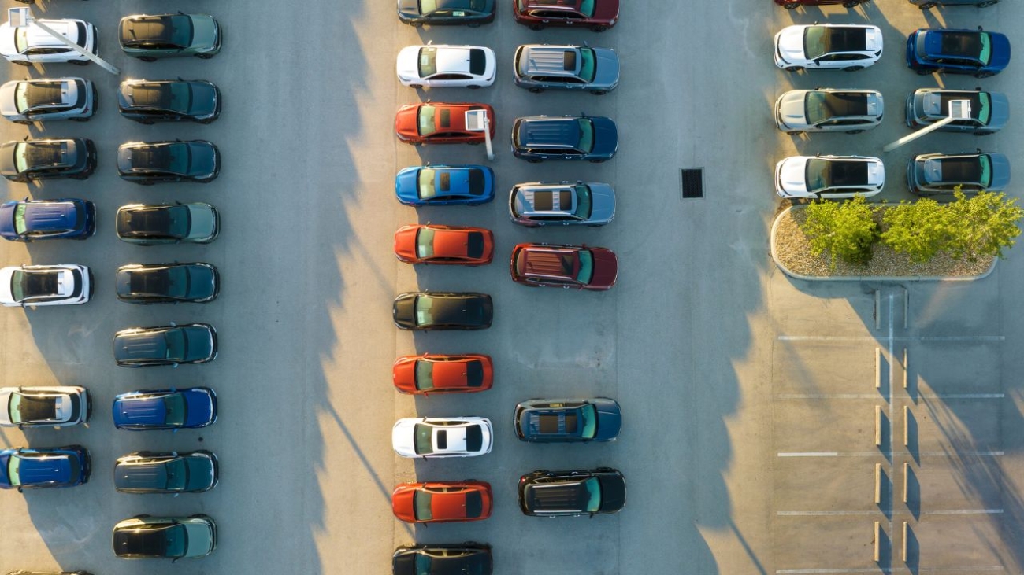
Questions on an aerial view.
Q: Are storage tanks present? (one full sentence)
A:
No, the photo shows no storage tank.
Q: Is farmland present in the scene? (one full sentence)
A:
No, the scene doesn't show any farmland.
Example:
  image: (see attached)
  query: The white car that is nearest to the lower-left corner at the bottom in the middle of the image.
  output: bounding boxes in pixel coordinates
[393,417,494,462]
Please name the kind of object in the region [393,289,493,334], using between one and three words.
car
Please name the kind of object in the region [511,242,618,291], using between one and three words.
car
